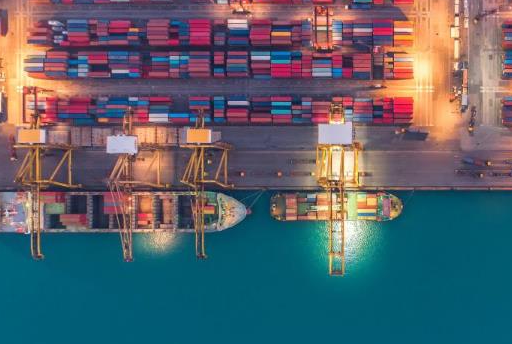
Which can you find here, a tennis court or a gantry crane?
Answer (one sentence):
Looking from above, you can make out a gantry crane.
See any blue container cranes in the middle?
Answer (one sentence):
No, I can find no blue container crane in the middle.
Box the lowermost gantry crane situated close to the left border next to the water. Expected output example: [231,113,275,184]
[11,110,90,260]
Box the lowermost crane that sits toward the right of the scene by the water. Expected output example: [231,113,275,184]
[316,99,368,281]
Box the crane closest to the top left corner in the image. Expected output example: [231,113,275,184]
[22,85,62,129]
